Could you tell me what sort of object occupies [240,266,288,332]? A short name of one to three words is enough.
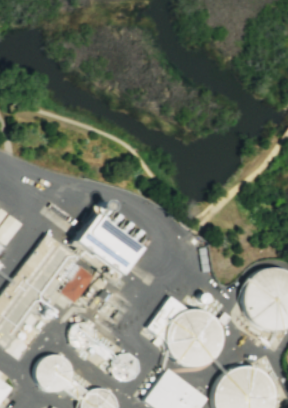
storage tank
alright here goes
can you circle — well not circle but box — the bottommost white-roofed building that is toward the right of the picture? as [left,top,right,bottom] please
[144,370,208,408]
